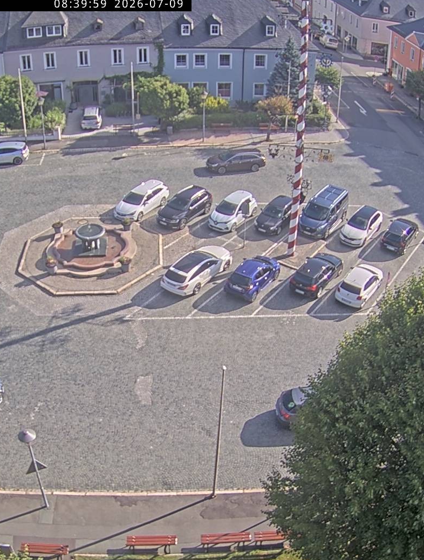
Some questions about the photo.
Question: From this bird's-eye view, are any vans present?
Yes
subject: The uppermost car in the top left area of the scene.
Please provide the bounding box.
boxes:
[81,104,103,126]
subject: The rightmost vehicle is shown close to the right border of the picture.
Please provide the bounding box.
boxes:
[379,217,421,256]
